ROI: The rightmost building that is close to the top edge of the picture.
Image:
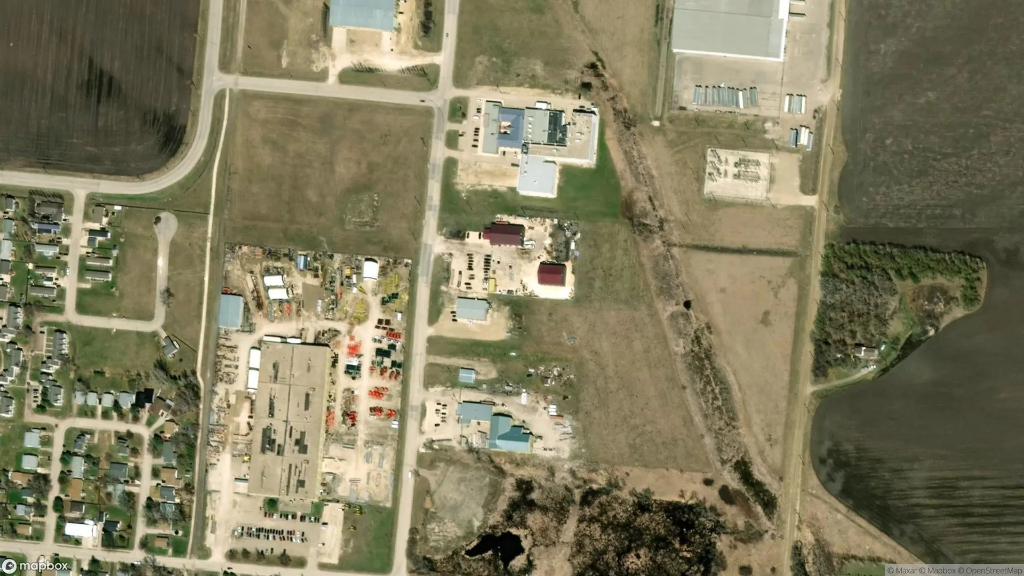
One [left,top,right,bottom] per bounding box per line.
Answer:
[672,0,793,61]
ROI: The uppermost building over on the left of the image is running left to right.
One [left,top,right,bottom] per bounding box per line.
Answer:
[330,0,398,33]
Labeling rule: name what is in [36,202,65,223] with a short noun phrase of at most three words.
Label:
house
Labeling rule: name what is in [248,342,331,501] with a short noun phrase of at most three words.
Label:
building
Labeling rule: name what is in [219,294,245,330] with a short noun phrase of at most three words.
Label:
shed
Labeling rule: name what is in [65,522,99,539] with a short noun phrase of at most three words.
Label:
house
